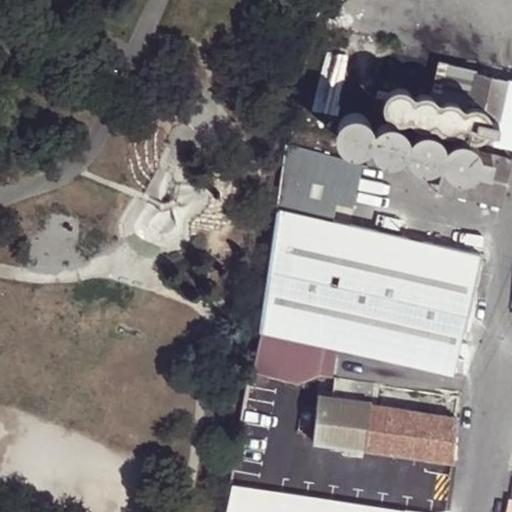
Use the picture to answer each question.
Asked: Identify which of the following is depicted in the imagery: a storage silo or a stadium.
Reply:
storage silo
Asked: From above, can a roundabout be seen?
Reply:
No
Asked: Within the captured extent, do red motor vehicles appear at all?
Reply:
No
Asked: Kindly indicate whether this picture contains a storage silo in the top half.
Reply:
Yes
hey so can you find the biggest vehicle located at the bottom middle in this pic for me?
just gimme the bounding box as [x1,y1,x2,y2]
[244,411,279,428]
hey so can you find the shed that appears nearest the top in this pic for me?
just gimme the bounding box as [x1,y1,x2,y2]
[436,61,478,91]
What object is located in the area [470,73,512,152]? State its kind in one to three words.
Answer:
building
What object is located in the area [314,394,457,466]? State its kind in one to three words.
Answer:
house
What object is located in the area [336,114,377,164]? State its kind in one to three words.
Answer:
silo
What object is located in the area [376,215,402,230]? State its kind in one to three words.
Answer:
vehicle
